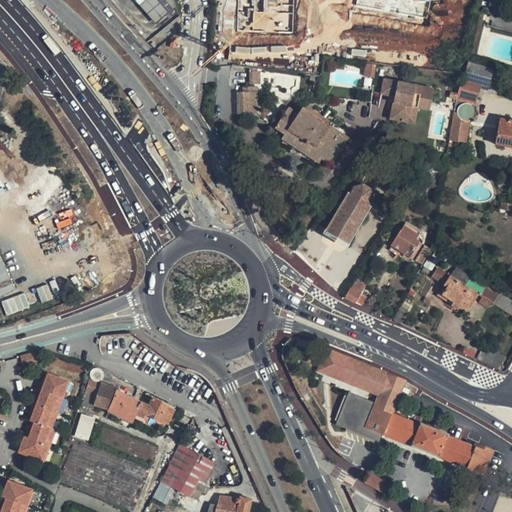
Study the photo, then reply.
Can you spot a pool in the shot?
Yes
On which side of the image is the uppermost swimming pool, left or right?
right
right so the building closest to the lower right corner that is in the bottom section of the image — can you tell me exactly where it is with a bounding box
[468,446,496,476]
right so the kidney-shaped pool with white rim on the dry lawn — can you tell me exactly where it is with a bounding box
[458,172,495,203]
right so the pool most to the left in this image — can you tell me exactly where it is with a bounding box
[328,66,364,88]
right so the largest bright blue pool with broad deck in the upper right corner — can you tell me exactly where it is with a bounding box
[478,24,512,64]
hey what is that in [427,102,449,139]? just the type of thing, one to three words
swimming pool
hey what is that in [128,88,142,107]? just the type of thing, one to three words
vehicle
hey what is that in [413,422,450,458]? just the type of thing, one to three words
house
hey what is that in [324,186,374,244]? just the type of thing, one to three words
building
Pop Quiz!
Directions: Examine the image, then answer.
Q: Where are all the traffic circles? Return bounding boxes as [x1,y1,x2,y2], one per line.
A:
[142,222,274,382]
